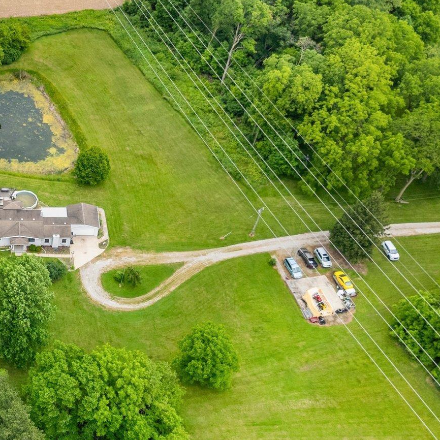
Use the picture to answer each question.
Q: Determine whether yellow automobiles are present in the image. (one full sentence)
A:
Yes, the photo shows a yellow automobile.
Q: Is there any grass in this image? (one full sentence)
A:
Yes, there's grass in this view.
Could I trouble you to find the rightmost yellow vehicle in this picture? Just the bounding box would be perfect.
[338,272,356,290]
